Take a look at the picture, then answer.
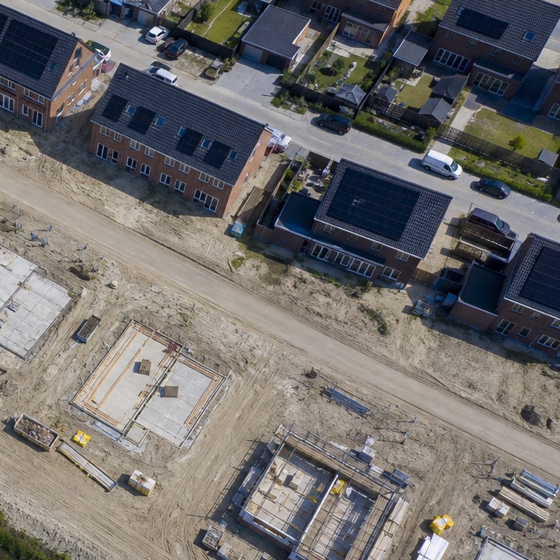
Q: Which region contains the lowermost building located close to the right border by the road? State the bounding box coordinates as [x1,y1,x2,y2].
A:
[447,231,560,353]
